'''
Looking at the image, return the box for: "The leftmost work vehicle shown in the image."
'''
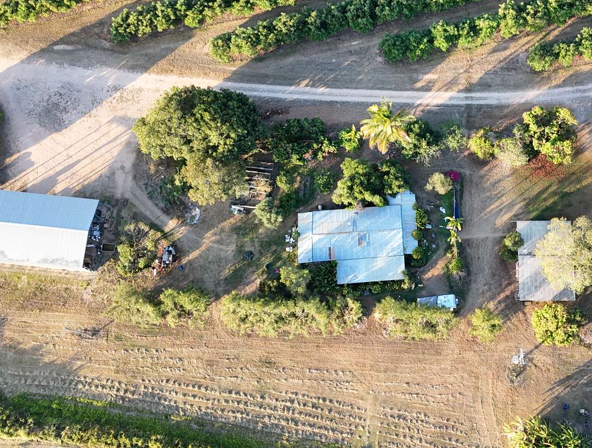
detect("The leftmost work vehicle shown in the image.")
[230,203,245,215]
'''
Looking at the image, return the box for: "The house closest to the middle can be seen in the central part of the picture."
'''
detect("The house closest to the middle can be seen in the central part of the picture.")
[298,192,418,286]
